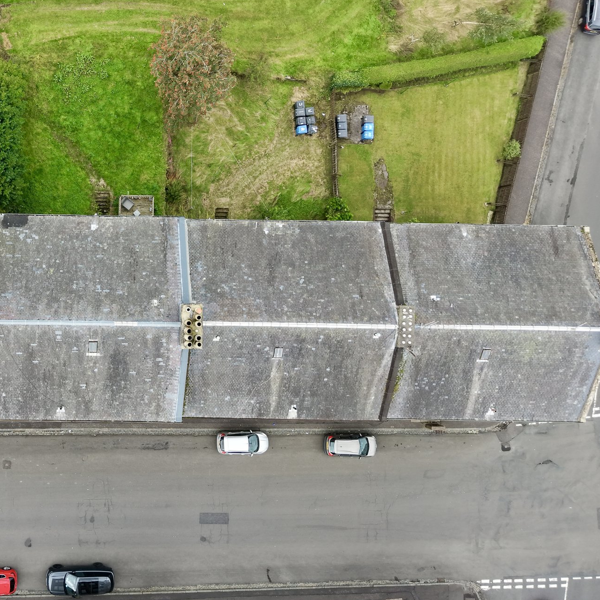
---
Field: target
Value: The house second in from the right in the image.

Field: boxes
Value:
[182,216,420,422]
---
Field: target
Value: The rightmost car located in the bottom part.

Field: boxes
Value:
[323,431,377,462]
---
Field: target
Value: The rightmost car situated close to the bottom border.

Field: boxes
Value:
[47,564,115,600]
